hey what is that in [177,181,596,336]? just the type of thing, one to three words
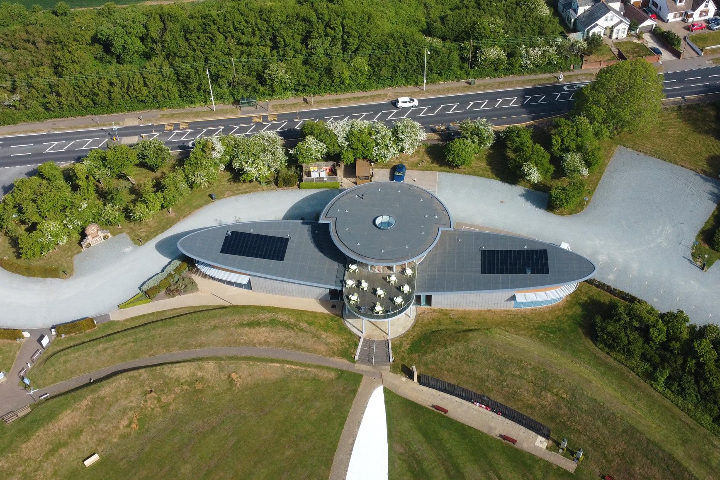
building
